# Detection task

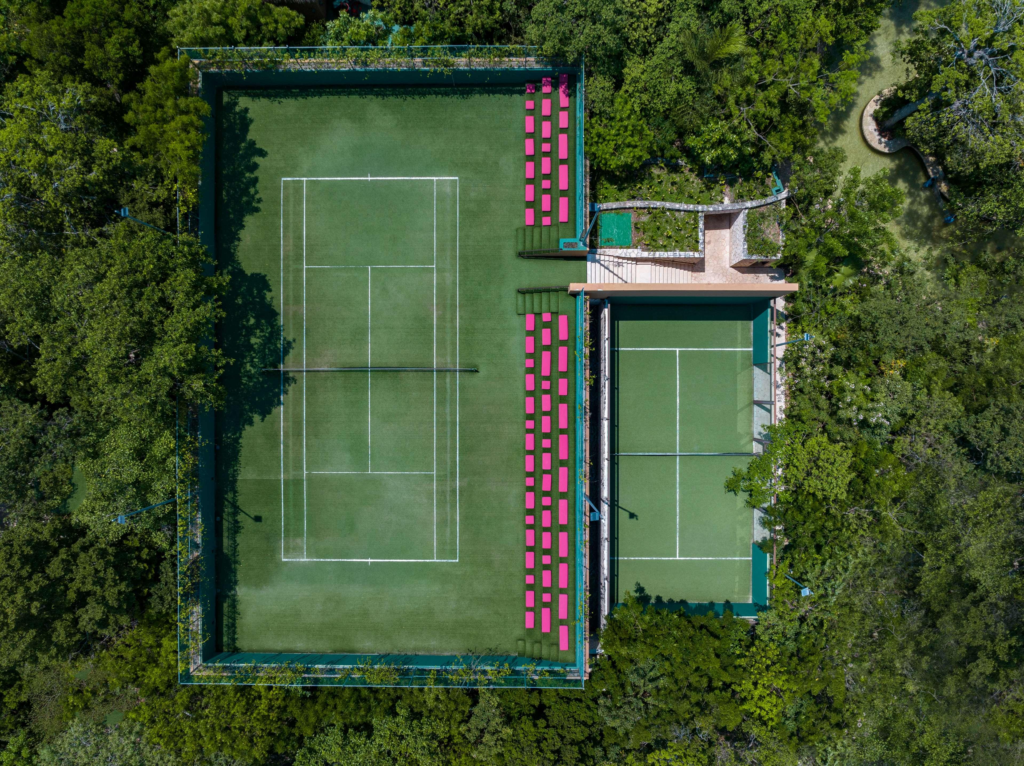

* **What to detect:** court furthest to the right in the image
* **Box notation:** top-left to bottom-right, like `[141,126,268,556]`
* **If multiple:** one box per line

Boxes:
[610,304,754,605]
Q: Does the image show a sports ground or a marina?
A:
sports ground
